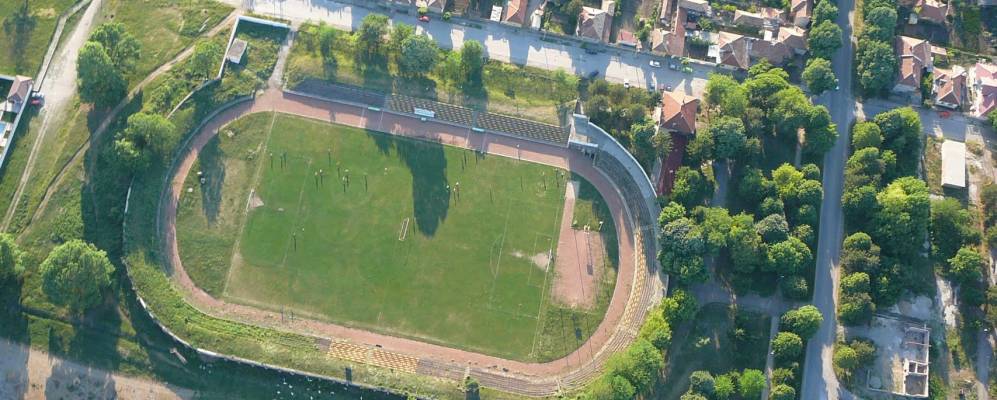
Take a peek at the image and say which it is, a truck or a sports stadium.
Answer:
sports stadium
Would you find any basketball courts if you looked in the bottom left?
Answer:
No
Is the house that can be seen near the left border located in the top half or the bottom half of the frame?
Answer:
top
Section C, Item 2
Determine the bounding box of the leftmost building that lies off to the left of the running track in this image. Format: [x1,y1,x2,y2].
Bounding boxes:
[7,75,34,105]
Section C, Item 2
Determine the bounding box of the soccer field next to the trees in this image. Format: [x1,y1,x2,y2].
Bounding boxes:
[222,112,567,358]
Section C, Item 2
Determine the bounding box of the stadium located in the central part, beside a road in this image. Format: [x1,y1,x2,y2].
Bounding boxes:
[283,77,667,397]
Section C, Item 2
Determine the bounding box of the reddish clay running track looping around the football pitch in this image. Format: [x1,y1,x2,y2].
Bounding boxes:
[156,91,629,381]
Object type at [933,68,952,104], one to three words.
house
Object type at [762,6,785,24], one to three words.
house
